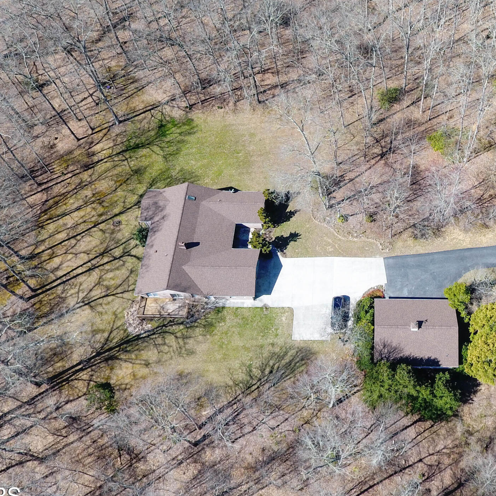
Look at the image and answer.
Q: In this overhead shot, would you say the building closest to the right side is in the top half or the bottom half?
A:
bottom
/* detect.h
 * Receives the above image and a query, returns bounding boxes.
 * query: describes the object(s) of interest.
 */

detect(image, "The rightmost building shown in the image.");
[374,298,459,366]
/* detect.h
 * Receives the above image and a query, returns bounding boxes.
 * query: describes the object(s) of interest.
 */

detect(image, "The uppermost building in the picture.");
[134,183,266,301]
